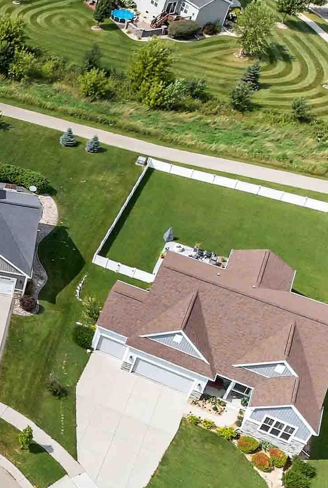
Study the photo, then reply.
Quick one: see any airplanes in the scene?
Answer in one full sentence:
No, the picture doesn't show any airplane.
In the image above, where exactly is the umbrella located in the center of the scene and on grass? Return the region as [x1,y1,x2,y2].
[165,222,177,243]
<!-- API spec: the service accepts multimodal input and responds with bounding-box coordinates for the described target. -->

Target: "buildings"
[94,243,328,466]
[134,0,234,26]
[0,189,46,298]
